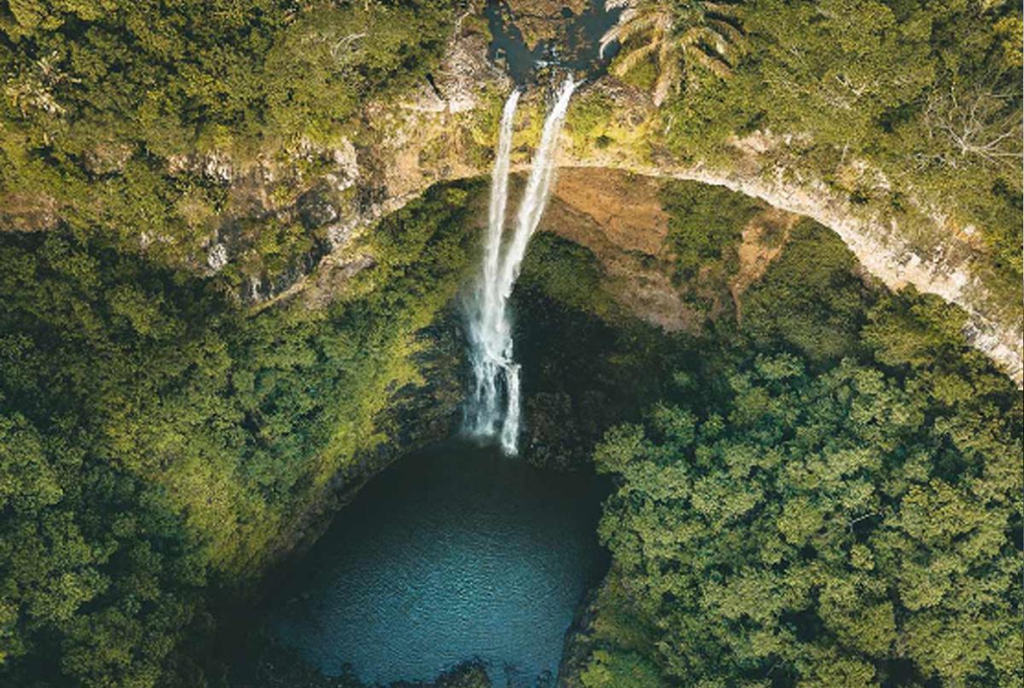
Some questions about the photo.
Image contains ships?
No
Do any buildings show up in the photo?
No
